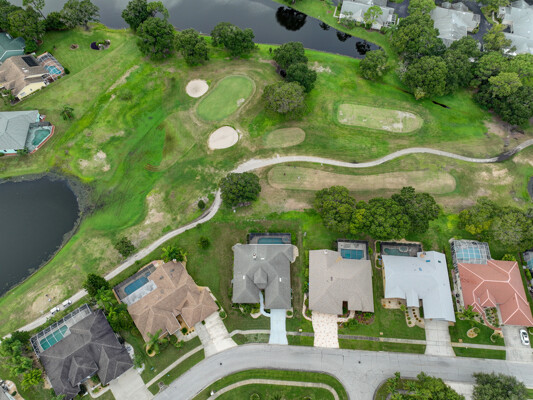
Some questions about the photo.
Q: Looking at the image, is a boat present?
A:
No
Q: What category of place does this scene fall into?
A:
golf course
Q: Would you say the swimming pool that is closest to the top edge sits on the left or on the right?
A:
left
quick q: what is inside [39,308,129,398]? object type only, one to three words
house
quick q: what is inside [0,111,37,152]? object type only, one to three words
house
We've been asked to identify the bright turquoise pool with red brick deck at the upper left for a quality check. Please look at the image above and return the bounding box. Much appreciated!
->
[42,57,62,82]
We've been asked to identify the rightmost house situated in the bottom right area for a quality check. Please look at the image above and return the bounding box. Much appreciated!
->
[454,260,533,327]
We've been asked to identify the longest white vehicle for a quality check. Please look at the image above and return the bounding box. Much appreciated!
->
[518,329,531,347]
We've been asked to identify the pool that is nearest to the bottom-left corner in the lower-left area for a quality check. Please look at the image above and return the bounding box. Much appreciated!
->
[37,308,91,356]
